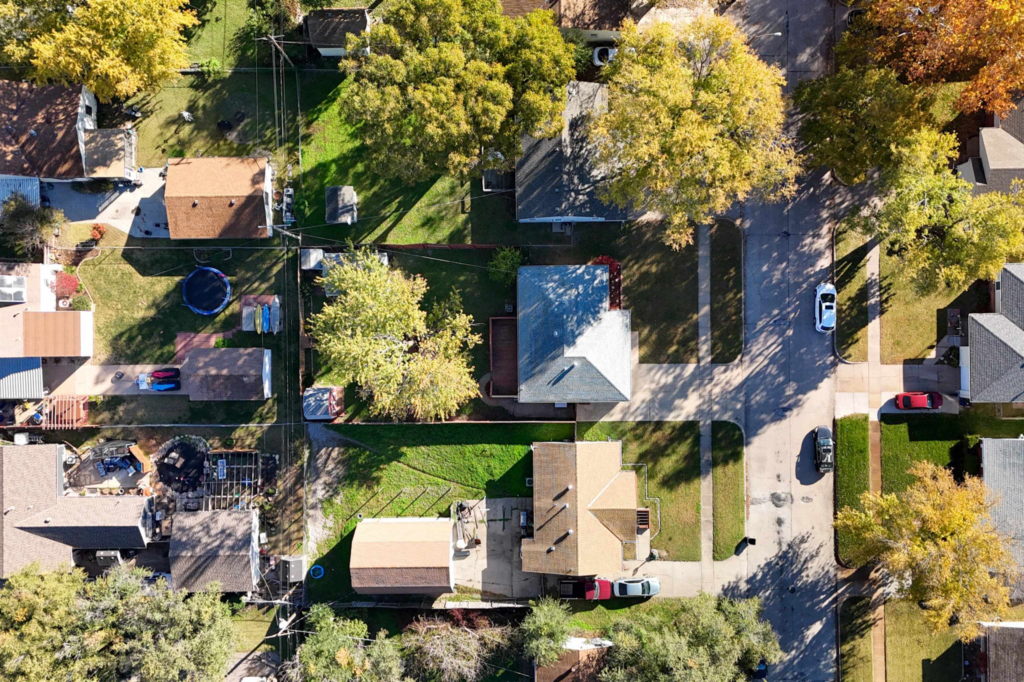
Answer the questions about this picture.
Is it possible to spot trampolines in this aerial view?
Yes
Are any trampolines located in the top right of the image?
No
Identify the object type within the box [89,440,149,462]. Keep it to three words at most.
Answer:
gazebo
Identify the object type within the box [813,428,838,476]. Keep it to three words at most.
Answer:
car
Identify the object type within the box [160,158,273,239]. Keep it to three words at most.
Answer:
building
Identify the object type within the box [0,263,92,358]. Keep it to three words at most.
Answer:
house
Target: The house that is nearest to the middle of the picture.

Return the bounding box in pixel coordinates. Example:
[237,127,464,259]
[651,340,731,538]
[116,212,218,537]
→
[517,264,632,403]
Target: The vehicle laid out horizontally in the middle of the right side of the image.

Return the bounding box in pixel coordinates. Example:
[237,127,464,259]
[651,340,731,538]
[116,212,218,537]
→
[895,390,943,413]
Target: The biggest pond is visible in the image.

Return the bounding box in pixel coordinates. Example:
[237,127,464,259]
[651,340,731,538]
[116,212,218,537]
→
[147,430,211,509]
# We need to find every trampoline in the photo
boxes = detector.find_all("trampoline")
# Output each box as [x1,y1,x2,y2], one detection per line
[182,268,230,315]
